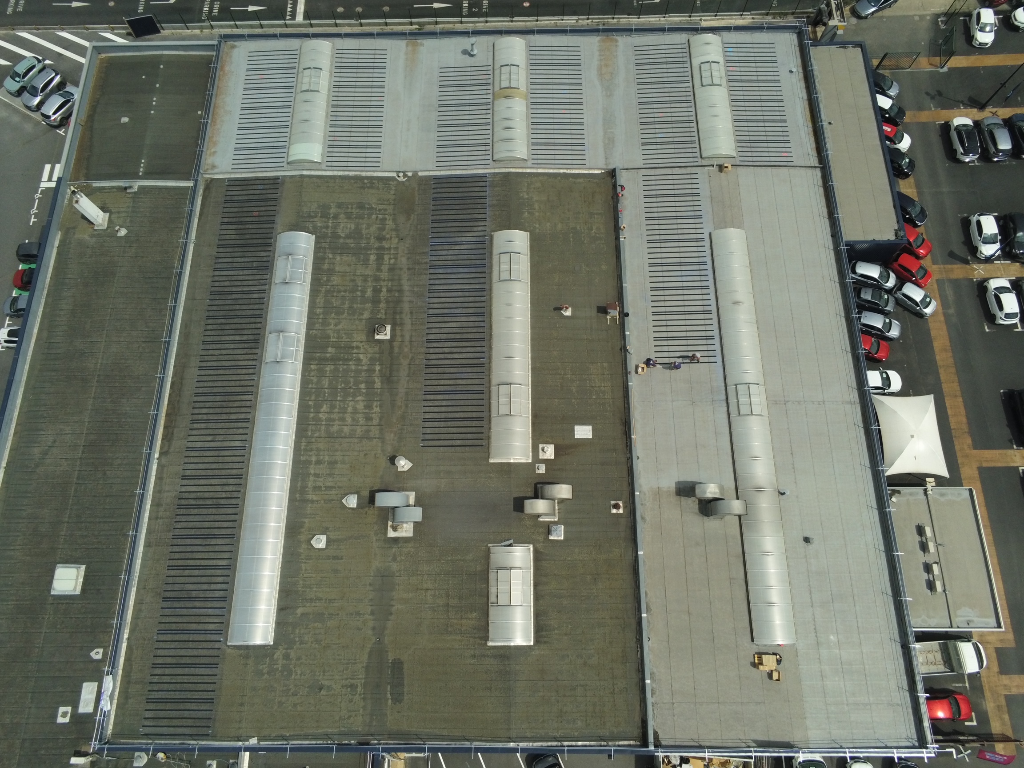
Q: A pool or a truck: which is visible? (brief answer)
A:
truck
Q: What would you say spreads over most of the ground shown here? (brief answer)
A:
buildings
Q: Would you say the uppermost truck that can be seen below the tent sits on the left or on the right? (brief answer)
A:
right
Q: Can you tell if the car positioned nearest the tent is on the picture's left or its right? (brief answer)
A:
right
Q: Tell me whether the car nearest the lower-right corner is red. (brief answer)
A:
Yes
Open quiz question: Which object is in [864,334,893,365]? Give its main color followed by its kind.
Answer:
red car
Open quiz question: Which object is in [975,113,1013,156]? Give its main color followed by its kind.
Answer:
gray car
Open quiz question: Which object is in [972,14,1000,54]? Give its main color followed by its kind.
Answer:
white car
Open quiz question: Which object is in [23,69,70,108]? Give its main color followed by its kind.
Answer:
gray car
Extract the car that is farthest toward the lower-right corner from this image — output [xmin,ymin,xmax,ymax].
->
[927,692,977,726]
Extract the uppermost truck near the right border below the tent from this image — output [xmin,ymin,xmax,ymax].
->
[918,637,998,674]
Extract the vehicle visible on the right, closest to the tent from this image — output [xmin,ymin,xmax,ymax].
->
[870,367,905,395]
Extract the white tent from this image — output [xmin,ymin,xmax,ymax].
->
[874,394,950,482]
